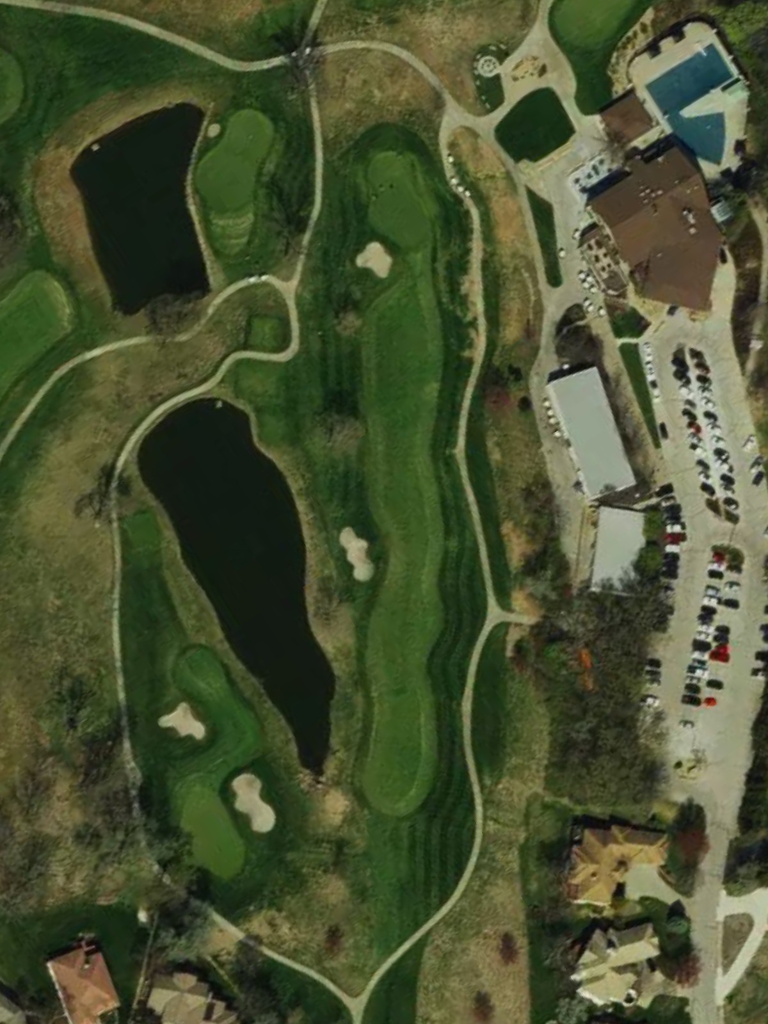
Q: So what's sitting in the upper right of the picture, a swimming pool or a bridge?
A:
swimming pool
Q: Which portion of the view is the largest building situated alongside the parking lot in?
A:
top right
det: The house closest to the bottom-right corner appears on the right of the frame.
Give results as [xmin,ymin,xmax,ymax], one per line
[574,925,663,1005]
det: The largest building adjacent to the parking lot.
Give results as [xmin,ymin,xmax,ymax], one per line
[586,147,724,312]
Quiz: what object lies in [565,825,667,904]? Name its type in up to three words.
house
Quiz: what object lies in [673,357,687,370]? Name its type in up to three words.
vehicle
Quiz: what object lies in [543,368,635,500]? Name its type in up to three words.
building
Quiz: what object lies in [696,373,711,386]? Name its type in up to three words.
vehicle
